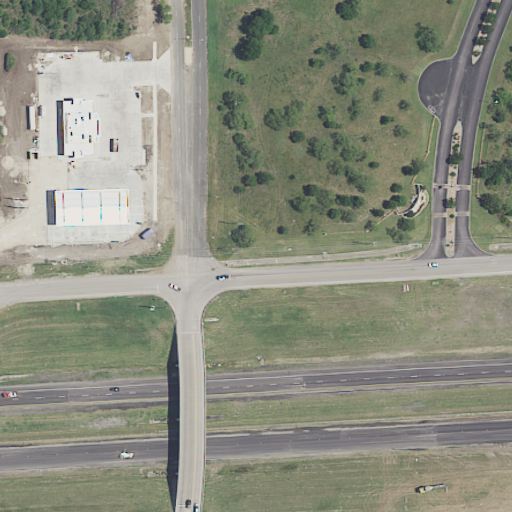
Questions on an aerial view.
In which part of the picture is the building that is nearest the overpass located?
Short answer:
left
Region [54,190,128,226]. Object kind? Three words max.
building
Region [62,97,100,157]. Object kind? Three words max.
building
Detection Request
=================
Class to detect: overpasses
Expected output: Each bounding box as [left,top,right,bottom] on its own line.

[176,321,206,512]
